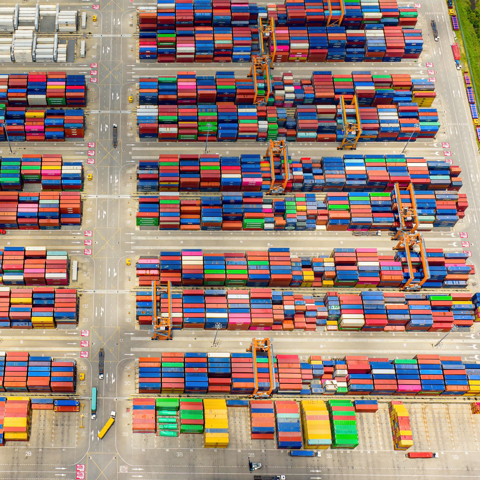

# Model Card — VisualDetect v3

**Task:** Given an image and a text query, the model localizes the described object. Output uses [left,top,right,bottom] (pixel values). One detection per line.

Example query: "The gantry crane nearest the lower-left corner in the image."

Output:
[150,279,173,341]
